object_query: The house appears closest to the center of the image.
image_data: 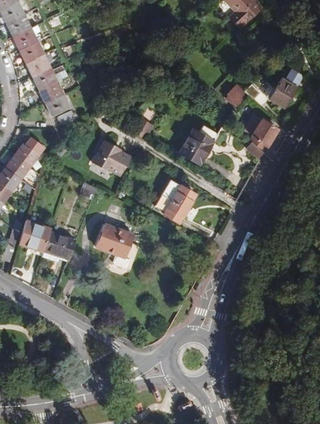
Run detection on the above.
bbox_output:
[156,180,198,226]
